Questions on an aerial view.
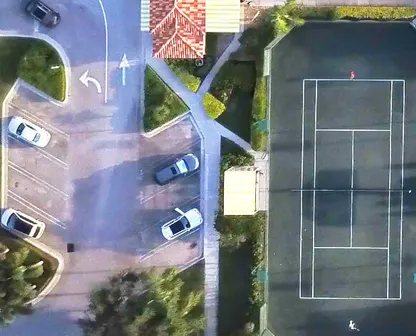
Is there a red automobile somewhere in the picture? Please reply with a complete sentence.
No, the scene contains no red automobile.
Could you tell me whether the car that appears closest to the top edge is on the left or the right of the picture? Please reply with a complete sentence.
The car that appears closest to the top edge sits on the left side.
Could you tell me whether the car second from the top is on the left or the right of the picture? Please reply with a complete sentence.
The car second from the top appears in the left half of the scene.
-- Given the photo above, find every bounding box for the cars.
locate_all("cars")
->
[0,207,47,241]
[21,0,64,28]
[155,153,201,184]
[8,117,53,148]
[159,208,204,241]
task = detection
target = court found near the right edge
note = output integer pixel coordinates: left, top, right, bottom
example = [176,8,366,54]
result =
[267,25,416,336]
